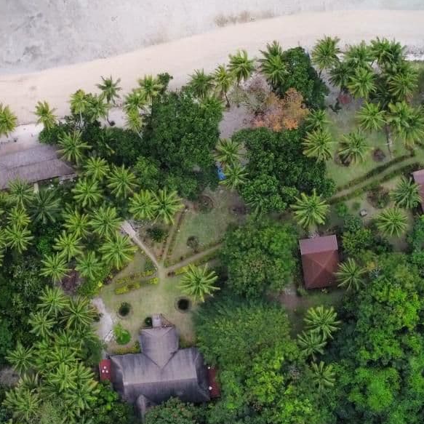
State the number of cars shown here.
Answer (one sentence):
The count of cars is 0.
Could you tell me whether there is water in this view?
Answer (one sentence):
No, there is no water in the image.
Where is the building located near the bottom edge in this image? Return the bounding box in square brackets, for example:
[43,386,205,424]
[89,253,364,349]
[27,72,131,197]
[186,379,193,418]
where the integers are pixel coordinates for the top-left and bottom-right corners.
[99,315,219,418]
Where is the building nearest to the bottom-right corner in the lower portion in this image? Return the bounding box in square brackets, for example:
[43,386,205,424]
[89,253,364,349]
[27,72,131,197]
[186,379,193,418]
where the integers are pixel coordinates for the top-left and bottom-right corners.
[298,235,341,290]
